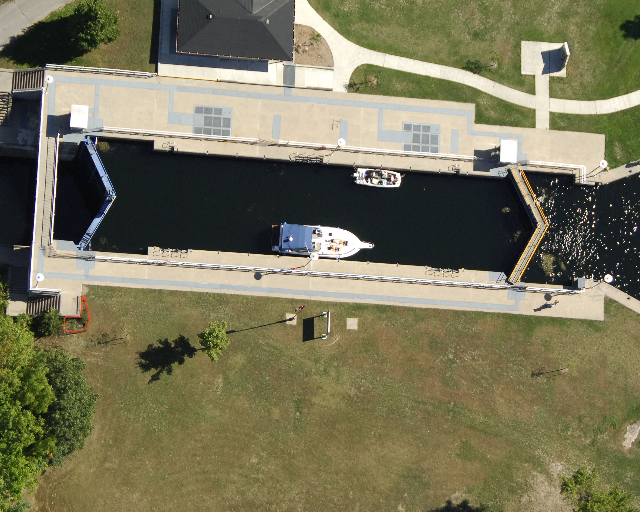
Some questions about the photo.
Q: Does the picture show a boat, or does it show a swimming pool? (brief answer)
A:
boat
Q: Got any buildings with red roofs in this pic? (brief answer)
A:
No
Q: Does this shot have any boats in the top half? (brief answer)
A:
Yes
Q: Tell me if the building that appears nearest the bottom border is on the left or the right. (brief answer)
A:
right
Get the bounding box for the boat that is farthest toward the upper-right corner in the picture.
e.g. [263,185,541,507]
[349,164,407,189]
